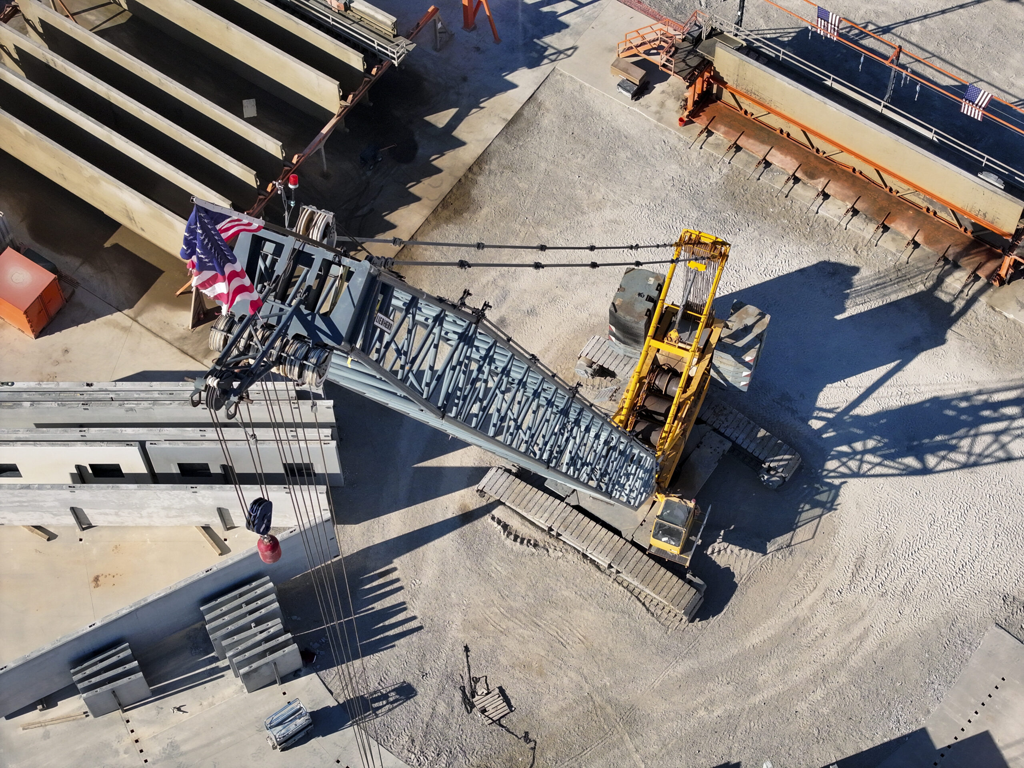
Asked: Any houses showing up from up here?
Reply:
No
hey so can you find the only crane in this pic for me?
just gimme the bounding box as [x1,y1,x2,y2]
[183,174,809,768]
